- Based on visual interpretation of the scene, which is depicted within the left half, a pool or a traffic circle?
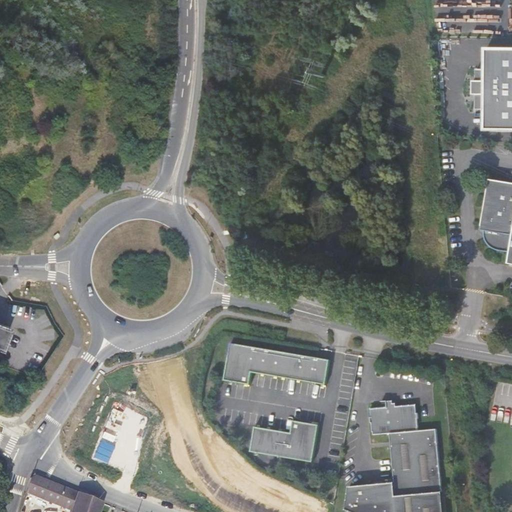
traffic circle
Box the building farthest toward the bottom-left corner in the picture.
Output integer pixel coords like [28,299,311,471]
[28,472,80,510]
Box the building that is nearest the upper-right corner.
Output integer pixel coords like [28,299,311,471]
[470,47,512,132]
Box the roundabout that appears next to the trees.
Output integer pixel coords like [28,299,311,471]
[69,196,216,342]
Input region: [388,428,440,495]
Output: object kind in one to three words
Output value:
building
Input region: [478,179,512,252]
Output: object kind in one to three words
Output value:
building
